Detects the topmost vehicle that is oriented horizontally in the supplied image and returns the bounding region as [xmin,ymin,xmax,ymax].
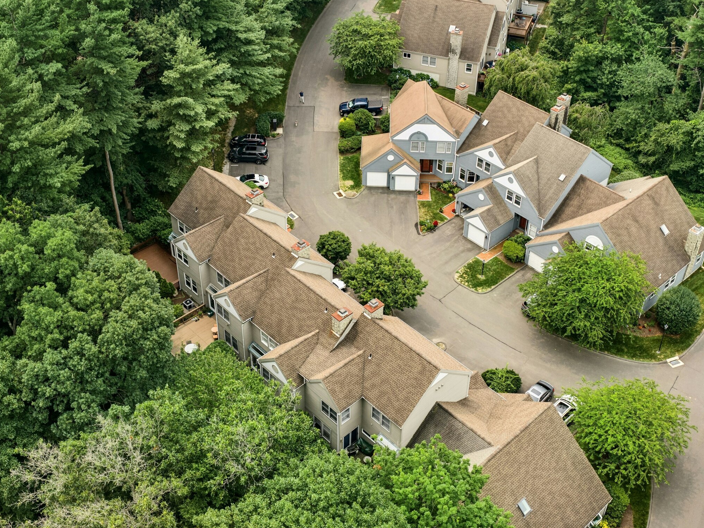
[339,97,383,115]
